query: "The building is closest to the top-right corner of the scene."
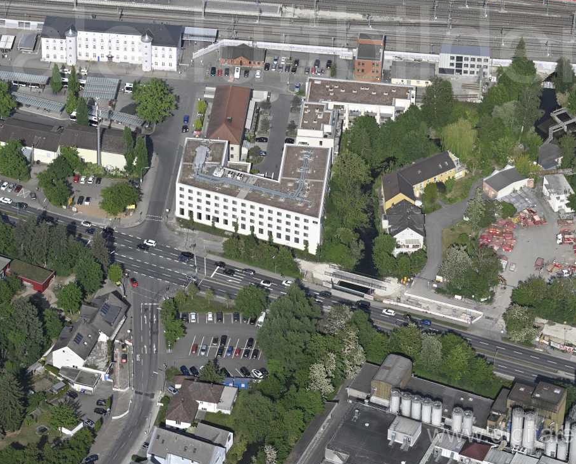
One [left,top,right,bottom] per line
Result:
[438,44,493,75]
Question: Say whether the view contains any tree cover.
Yes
